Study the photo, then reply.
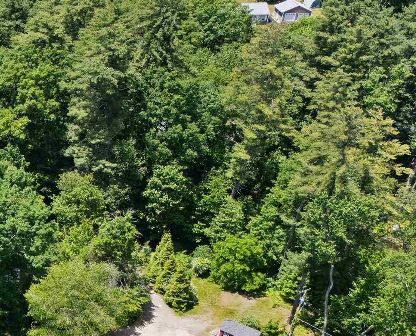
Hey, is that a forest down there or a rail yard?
forest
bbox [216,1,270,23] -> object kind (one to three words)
house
